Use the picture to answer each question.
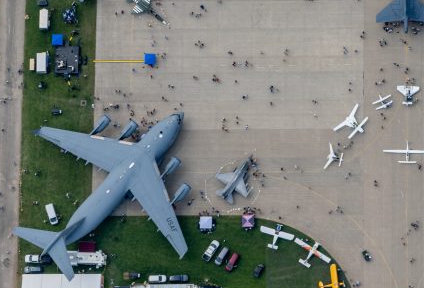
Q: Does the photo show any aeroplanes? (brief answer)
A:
Yes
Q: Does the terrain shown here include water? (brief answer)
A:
No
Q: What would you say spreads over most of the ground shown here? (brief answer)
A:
paved ground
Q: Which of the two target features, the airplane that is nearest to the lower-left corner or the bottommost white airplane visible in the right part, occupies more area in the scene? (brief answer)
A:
the airplane that is nearest to the lower-left corner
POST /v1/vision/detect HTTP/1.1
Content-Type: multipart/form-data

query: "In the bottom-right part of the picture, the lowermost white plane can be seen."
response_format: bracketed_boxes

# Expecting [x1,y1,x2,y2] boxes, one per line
[294,238,331,269]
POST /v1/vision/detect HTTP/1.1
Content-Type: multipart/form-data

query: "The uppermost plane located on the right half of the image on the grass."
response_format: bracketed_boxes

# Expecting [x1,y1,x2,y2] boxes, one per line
[259,224,294,251]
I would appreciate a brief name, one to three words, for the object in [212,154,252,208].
airplane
